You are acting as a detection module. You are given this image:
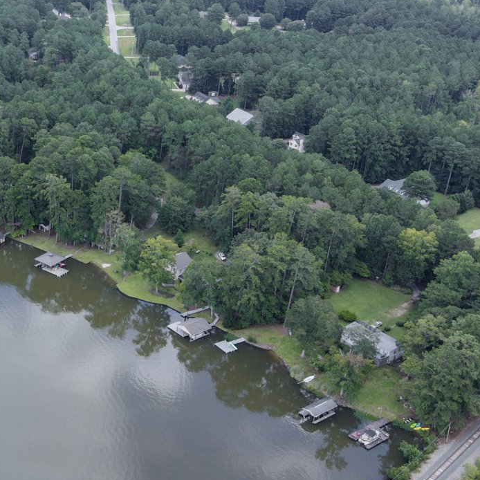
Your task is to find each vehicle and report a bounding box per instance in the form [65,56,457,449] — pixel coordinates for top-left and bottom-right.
[217,252,228,261]
[373,321,386,331]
